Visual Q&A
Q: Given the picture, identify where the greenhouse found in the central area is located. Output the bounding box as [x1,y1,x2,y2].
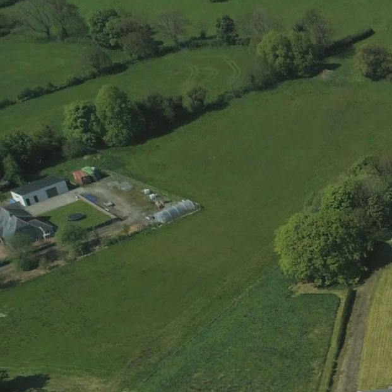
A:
[146,194,197,223]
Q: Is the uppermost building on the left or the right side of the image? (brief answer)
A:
left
